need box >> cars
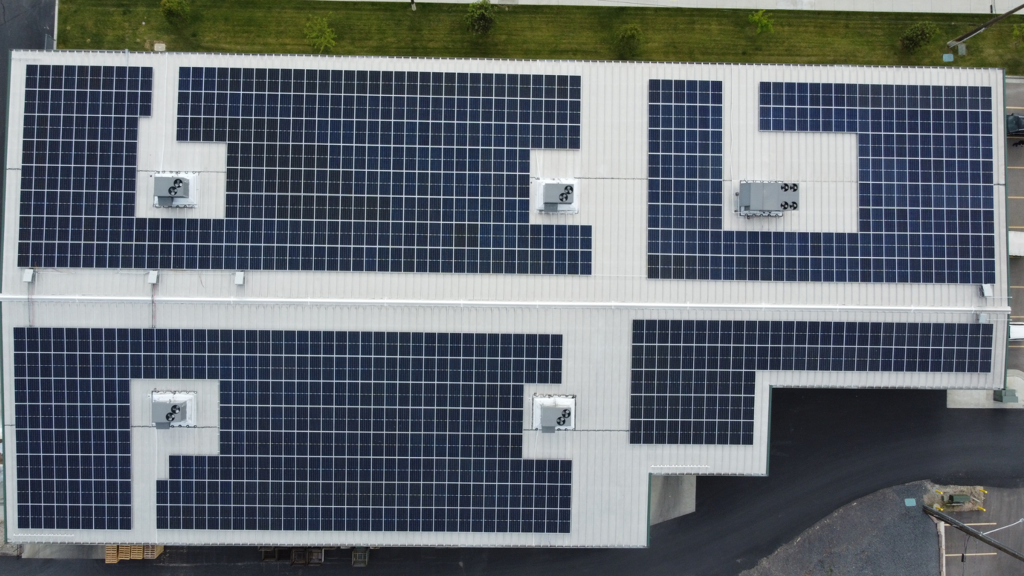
[1006,112,1024,138]
[1007,321,1024,341]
